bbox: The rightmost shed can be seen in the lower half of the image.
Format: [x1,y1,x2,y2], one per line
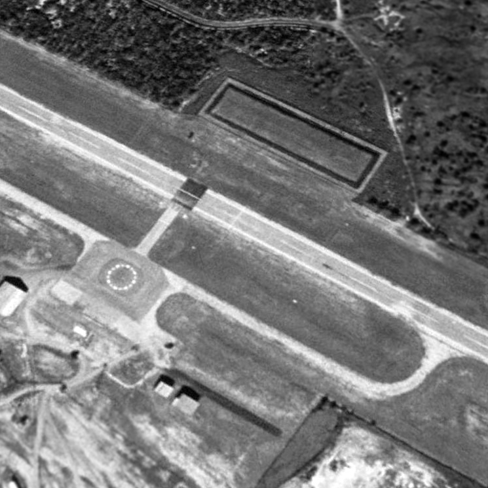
[172,394,200,417]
